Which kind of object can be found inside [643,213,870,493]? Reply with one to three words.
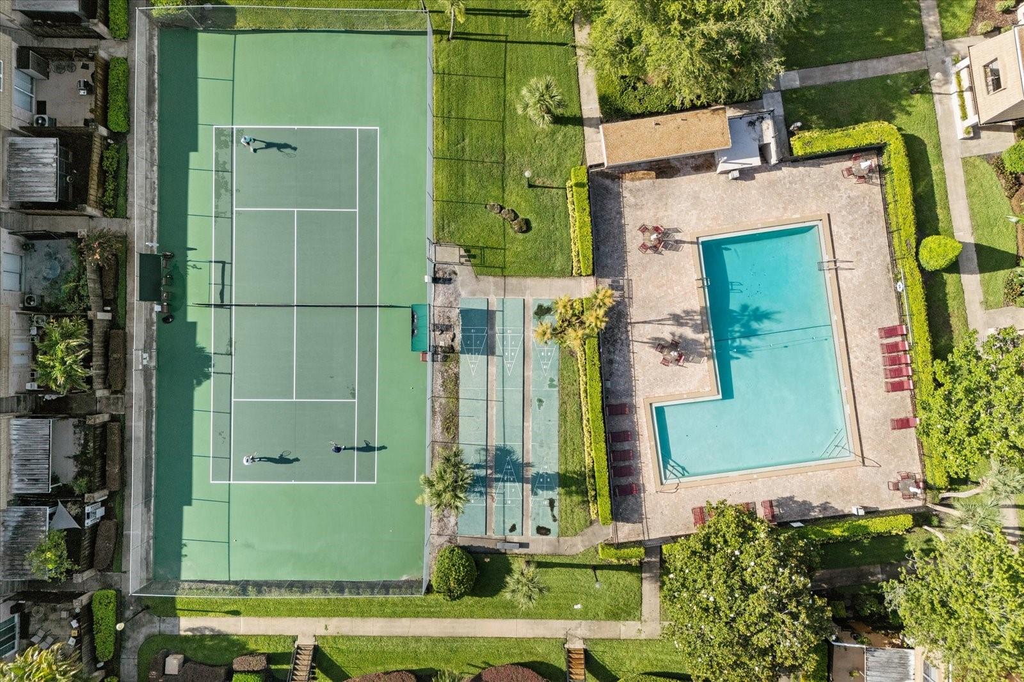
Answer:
swimming pool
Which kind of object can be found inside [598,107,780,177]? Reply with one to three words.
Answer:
building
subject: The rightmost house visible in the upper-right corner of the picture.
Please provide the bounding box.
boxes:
[959,21,1024,131]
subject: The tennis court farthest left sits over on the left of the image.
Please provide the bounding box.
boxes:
[153,29,433,581]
